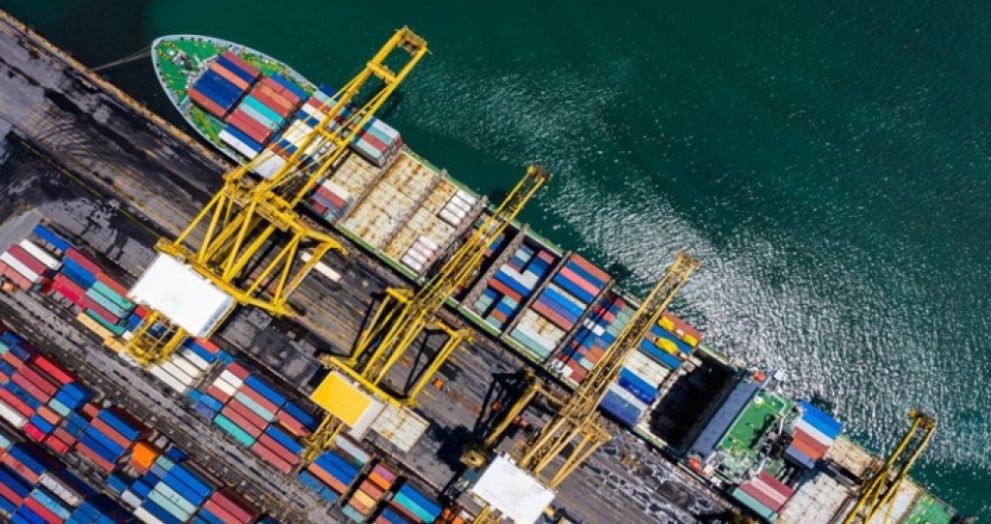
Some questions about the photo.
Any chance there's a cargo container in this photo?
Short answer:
Yes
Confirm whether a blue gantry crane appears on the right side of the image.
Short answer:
No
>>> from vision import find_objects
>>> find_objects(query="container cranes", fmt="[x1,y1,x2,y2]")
[281,159,546,477]
[123,27,433,380]
[465,252,702,524]
[842,411,947,524]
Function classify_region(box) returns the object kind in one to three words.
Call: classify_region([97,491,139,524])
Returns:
shipping container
